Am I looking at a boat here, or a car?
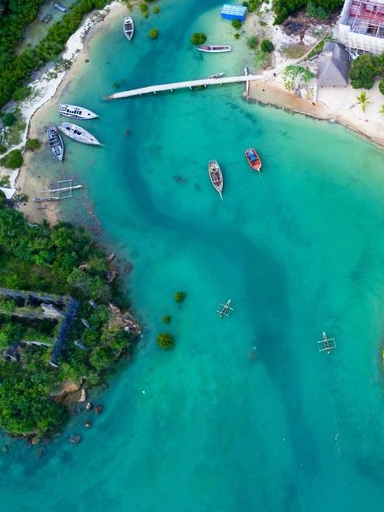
boat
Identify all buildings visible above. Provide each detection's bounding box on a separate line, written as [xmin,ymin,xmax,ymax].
[317,41,350,93]
[339,0,384,56]
[222,4,248,23]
